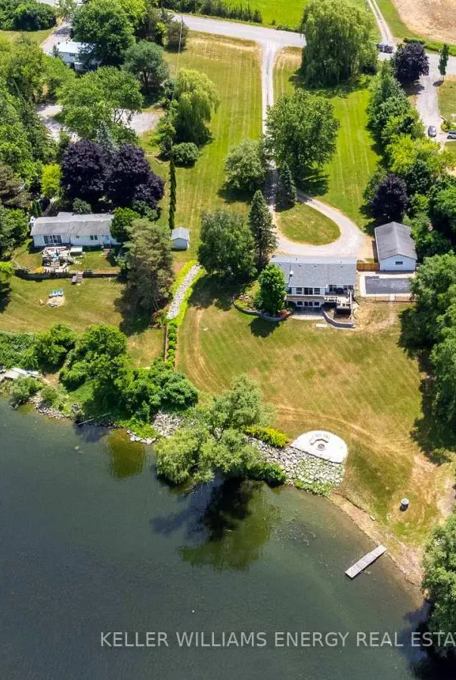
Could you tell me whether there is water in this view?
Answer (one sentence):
Yes, water shows up in the scene.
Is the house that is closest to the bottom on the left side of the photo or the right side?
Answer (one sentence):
The house that is closest to the bottom is on the right side of the image.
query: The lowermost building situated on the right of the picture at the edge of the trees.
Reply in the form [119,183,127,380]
[267,255,357,322]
